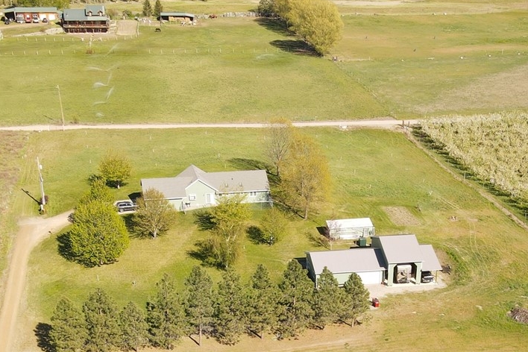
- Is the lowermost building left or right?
right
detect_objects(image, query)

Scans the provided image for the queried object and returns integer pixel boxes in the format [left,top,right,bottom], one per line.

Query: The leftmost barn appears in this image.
[1,8,62,22]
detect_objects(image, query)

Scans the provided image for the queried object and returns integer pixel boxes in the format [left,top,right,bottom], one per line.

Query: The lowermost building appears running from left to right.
[309,233,443,288]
